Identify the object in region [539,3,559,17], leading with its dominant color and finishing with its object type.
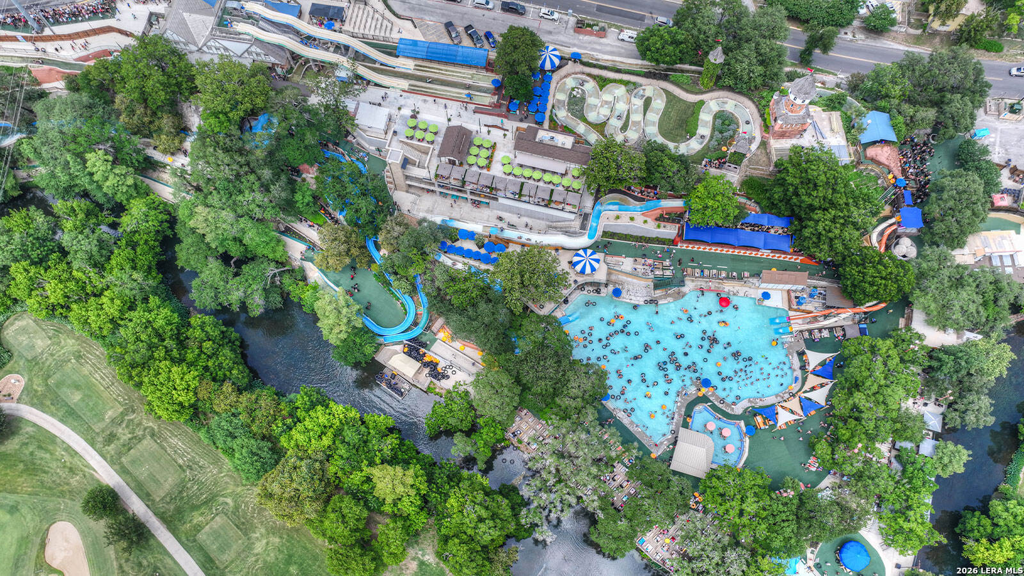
white car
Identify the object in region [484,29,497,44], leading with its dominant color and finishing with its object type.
blue vehicle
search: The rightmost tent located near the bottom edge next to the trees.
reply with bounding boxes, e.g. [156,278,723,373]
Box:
[836,538,872,574]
